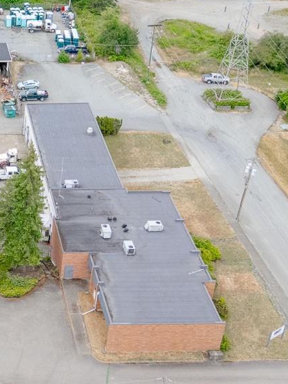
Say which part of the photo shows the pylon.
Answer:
top right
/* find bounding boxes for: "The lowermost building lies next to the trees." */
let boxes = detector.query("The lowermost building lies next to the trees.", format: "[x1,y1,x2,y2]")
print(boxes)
[29,103,227,353]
